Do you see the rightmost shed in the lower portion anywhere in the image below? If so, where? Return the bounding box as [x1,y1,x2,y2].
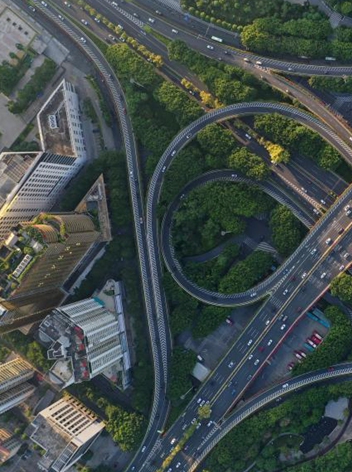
[191,360,215,381]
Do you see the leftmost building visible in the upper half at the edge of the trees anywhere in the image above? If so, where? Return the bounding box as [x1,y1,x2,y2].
[0,6,40,68]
